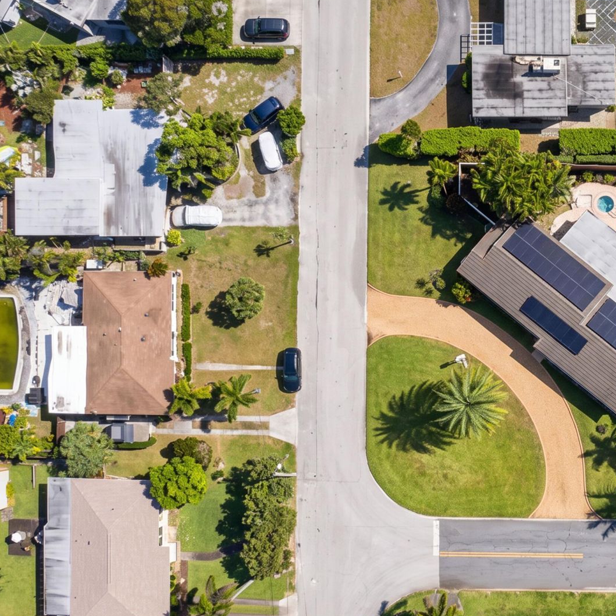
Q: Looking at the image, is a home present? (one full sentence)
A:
Yes, a home appears in the view.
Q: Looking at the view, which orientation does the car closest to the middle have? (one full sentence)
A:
In this picture, the car closest to the middle is oriented vertically.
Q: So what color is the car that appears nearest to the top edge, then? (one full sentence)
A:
The color of the car that appears nearest to the top edge is black.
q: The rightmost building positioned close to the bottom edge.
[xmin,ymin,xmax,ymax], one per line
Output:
[45,474,189,616]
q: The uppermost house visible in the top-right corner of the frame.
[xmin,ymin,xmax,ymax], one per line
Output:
[471,0,615,119]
